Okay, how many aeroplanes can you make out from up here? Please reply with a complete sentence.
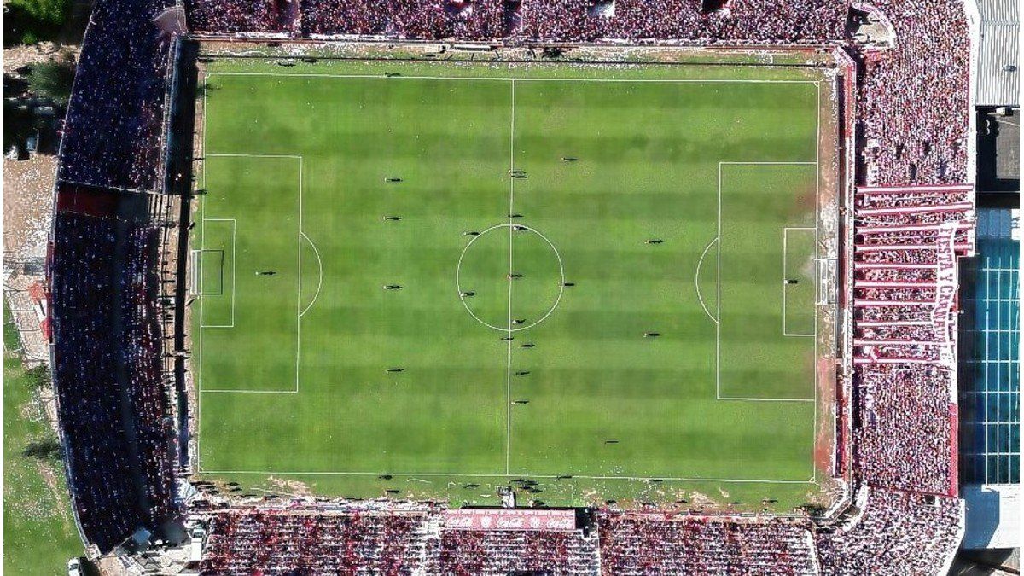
No aeroplanes are visible.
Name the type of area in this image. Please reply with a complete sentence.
This image shows a sports ground.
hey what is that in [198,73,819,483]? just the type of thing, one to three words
soccer field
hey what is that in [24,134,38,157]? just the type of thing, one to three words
car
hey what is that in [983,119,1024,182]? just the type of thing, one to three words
building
